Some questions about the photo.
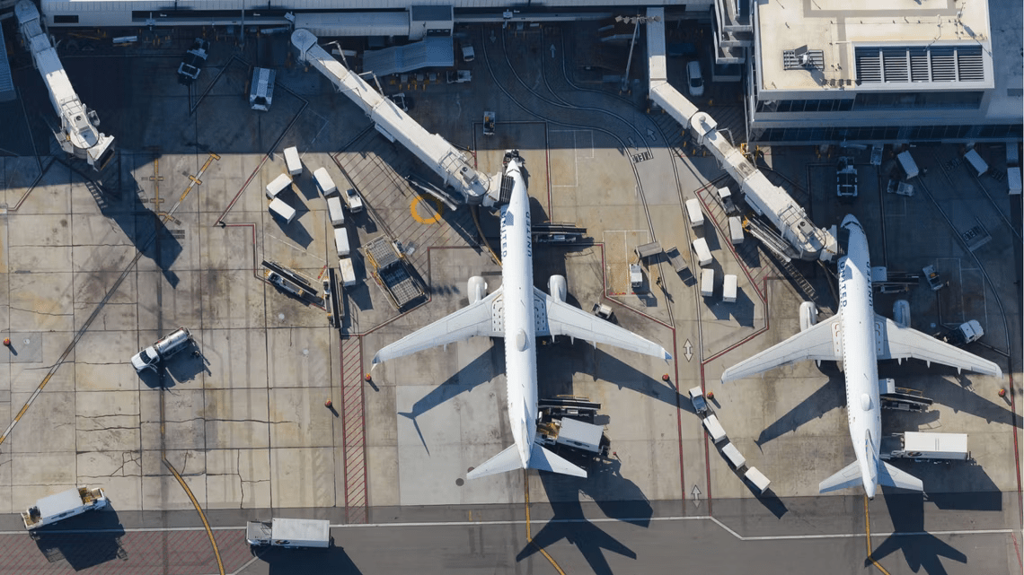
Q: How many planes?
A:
2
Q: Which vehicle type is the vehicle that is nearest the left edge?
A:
truck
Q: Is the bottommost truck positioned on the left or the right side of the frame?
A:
left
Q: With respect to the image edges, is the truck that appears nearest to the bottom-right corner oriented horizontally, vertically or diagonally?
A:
horizontally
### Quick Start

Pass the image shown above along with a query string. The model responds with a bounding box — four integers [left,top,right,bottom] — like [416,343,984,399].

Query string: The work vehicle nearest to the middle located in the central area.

[533,228,586,256]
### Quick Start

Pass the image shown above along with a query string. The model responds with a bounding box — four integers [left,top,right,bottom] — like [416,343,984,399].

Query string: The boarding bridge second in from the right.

[291,29,511,237]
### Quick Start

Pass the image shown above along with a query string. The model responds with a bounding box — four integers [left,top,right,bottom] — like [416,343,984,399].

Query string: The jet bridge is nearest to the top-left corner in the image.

[12,0,117,170]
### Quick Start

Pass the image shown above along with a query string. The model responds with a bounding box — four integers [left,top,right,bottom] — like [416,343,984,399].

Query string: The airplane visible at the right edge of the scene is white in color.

[721,214,1006,501]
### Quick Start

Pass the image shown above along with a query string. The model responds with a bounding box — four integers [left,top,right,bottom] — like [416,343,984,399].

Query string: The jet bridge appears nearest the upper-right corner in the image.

[686,109,848,304]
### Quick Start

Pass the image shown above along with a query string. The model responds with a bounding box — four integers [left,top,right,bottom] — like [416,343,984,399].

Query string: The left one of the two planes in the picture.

[370,159,674,479]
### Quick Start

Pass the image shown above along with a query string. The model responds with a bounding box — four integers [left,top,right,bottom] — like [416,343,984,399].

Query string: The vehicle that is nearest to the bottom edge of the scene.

[243,519,335,555]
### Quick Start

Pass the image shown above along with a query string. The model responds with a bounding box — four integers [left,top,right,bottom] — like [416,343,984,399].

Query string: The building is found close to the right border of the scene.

[738,0,1024,168]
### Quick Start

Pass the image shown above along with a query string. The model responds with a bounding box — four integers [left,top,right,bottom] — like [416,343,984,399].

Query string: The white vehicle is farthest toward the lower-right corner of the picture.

[880,432,970,467]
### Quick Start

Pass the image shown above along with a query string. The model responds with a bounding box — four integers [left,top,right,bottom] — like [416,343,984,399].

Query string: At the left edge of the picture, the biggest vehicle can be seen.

[13,484,108,534]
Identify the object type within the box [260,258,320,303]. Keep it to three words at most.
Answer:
work vehicle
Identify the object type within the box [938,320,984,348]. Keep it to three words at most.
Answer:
truck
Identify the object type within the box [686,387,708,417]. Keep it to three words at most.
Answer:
work vehicle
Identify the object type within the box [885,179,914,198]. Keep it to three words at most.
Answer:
vehicle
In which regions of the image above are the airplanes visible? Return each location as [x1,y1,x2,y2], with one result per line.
[370,159,674,479]
[721,214,1006,501]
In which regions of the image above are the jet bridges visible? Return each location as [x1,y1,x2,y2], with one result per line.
[12,0,117,170]
[291,29,511,237]
[686,109,848,304]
